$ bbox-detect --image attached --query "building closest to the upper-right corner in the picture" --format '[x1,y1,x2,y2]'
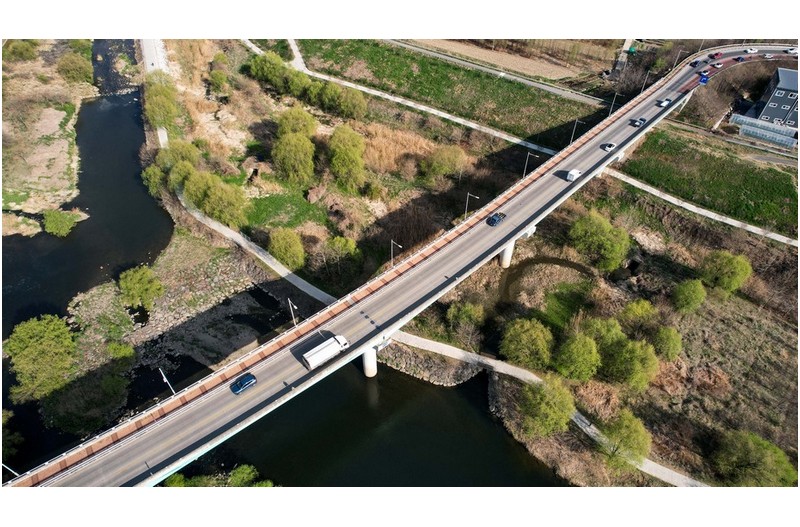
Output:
[763,69,800,125]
